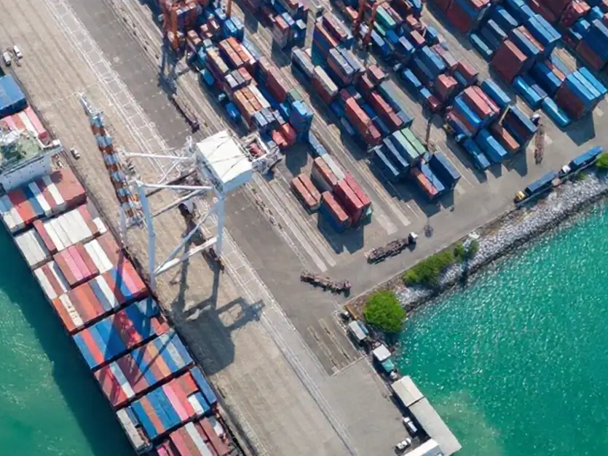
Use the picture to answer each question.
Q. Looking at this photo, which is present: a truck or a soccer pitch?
truck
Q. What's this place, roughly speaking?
port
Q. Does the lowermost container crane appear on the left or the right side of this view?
left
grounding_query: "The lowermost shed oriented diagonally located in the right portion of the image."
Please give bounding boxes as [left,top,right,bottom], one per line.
[404,396,464,456]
